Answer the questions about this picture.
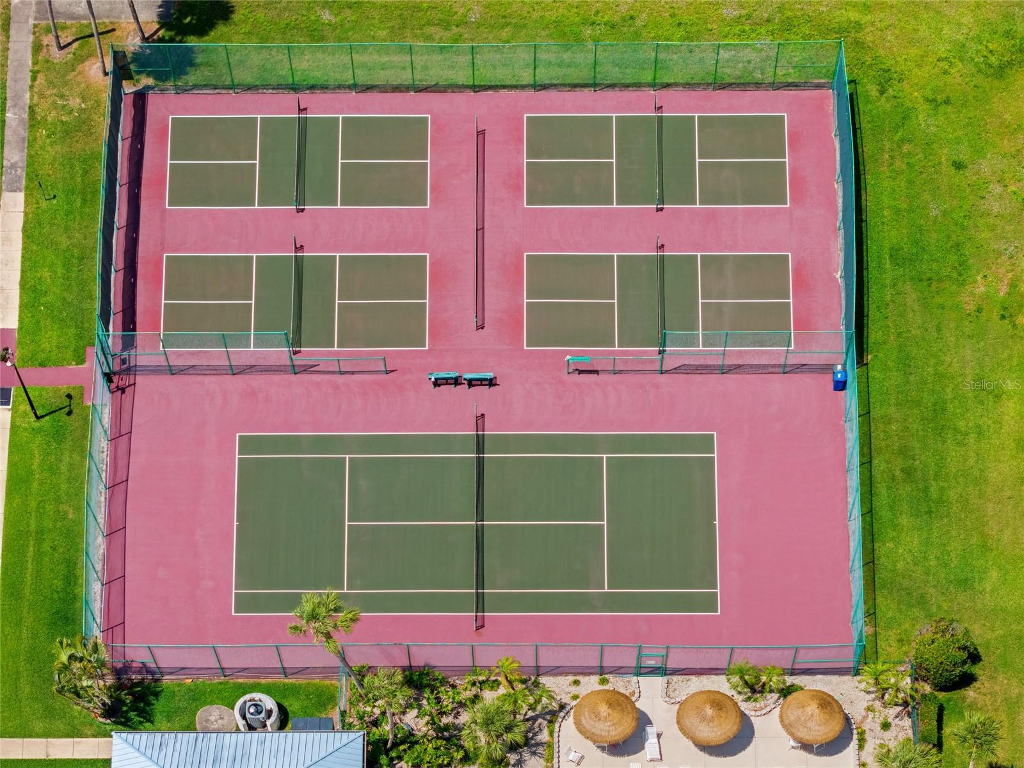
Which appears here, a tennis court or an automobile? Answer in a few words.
tennis court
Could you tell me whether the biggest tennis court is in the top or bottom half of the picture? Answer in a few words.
bottom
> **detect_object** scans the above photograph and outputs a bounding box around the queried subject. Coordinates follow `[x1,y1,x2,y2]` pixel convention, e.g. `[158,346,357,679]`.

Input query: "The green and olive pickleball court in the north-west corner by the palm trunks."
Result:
[166,114,430,208]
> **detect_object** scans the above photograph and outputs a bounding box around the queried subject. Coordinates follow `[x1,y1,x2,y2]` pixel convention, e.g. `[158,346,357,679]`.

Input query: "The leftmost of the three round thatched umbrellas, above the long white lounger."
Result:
[572,688,641,744]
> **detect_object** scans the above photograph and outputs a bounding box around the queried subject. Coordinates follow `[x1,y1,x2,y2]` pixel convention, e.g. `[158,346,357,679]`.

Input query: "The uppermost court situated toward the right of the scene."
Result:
[525,113,788,207]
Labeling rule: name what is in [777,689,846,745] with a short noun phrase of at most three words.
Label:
umbrella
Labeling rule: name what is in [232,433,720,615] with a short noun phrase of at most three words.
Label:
tennis court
